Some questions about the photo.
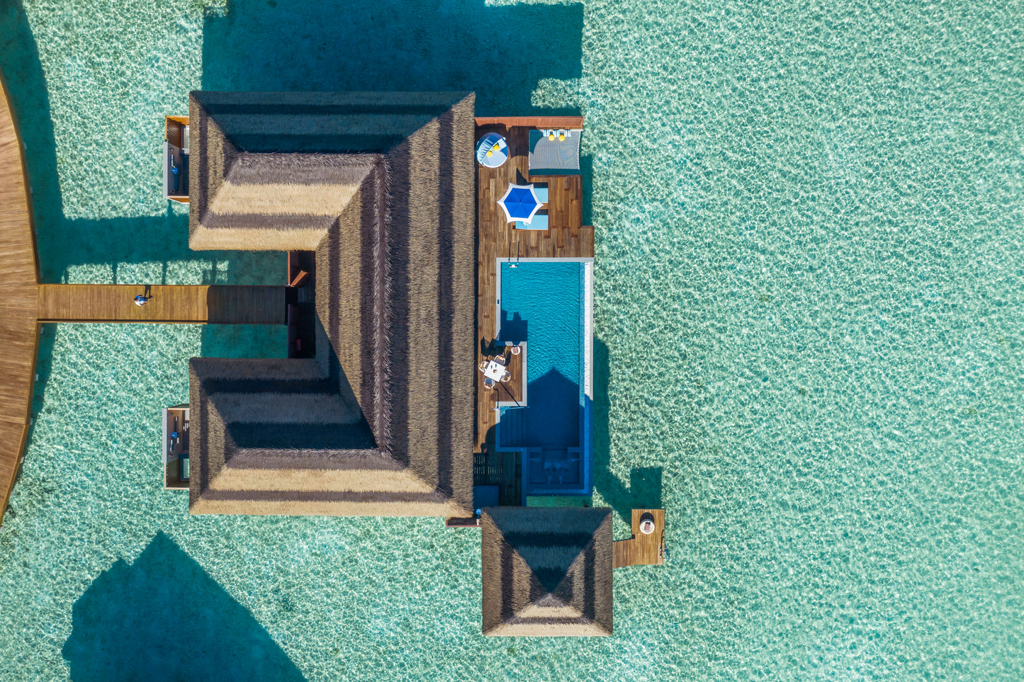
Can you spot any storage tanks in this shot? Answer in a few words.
No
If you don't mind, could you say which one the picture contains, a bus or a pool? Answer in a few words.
pool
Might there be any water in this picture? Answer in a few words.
Yes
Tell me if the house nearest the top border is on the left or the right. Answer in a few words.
left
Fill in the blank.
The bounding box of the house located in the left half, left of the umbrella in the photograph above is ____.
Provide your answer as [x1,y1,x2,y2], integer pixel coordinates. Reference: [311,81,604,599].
[187,89,479,520]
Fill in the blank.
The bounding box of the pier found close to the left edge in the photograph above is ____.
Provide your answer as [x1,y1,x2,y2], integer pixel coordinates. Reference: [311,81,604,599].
[0,68,43,543]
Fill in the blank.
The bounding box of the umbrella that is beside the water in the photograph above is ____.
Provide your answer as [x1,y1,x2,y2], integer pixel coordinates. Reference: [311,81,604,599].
[498,184,544,225]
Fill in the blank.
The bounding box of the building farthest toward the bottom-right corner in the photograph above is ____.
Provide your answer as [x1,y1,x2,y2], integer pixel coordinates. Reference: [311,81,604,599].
[479,504,616,639]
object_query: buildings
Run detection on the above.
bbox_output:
[479,504,616,639]
[187,89,479,520]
